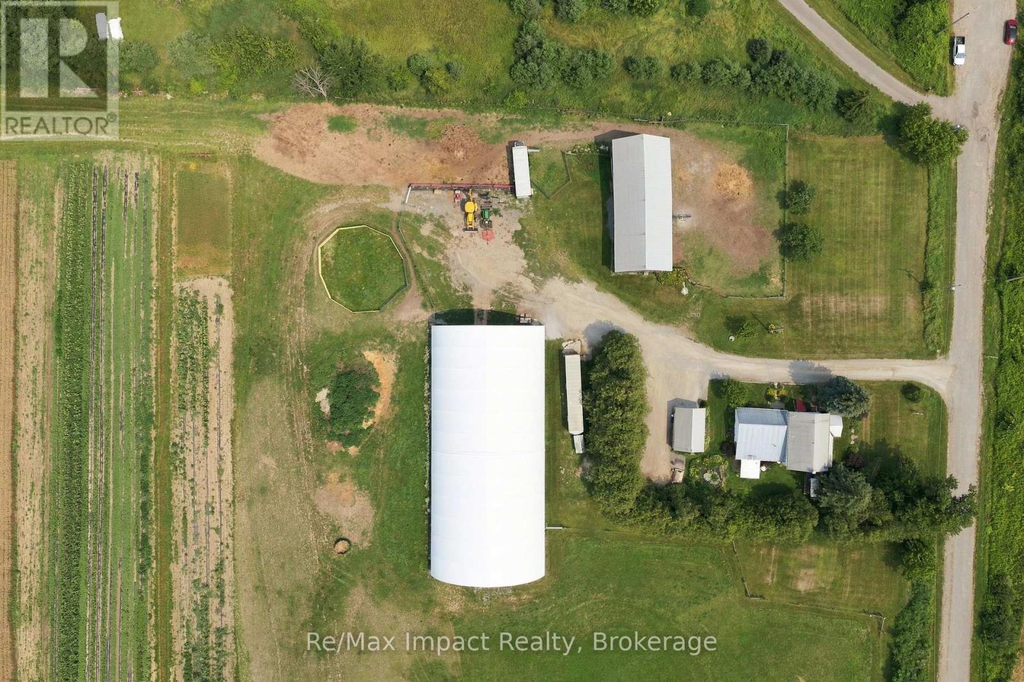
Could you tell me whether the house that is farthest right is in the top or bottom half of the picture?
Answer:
bottom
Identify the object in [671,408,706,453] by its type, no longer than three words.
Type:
building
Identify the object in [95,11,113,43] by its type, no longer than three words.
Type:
shed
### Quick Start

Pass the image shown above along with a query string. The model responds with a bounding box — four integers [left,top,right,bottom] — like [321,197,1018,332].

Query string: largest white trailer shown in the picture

[564,354,584,437]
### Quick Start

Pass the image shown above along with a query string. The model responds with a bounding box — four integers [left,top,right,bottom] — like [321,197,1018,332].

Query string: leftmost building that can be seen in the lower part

[431,324,546,588]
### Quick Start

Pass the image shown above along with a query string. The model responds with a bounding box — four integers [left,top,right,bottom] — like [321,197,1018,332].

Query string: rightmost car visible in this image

[1002,19,1017,45]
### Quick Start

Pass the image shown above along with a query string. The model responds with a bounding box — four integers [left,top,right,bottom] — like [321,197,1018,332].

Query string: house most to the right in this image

[733,408,842,479]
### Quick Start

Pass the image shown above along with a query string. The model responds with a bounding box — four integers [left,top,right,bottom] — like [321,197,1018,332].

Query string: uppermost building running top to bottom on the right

[610,133,673,277]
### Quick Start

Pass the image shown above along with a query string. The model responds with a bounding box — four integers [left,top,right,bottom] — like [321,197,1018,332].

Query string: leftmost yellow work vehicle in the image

[463,188,478,232]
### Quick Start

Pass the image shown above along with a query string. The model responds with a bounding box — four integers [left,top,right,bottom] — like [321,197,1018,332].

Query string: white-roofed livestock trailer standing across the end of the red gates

[513,142,537,200]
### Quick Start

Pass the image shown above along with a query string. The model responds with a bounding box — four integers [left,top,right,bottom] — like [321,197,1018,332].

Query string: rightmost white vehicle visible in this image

[952,35,967,67]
